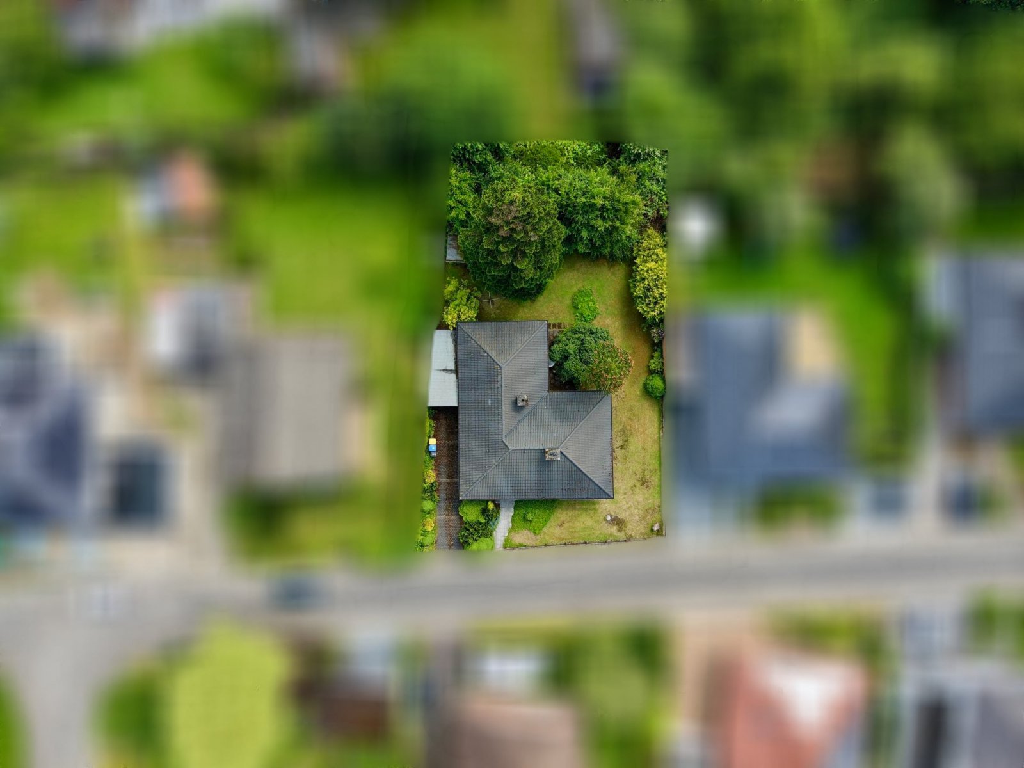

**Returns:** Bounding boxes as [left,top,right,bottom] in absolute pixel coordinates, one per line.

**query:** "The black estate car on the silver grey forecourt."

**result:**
[917,699,946,755]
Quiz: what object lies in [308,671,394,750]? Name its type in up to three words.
house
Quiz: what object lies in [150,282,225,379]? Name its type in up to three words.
building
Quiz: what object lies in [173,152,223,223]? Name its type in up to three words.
shed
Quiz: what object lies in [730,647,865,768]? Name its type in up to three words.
house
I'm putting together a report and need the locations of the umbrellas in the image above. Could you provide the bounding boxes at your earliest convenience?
[673,205,715,247]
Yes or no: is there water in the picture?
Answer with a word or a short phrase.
No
